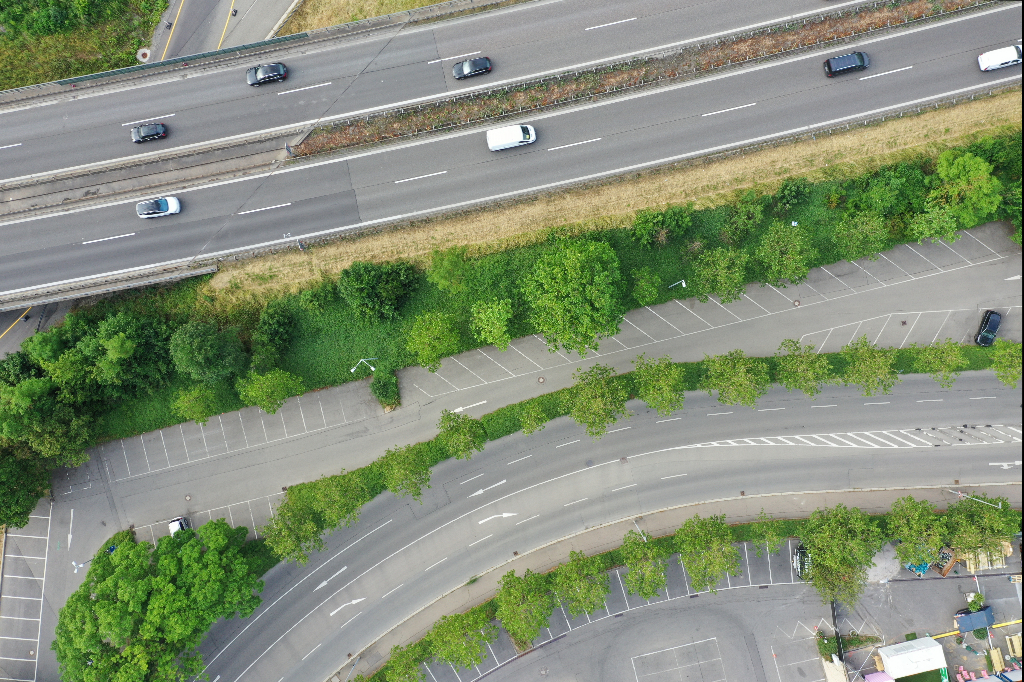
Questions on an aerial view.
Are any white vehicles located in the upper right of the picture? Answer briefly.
Yes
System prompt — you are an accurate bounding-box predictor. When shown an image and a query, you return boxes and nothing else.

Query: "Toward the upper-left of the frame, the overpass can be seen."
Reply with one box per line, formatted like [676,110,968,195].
[0,12,415,315]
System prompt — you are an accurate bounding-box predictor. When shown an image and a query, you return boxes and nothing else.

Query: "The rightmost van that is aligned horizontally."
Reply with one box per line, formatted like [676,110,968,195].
[977,43,1024,72]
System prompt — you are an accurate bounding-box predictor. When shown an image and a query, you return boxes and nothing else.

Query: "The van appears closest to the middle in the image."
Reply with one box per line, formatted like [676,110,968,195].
[486,123,536,152]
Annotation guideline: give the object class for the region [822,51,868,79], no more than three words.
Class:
van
